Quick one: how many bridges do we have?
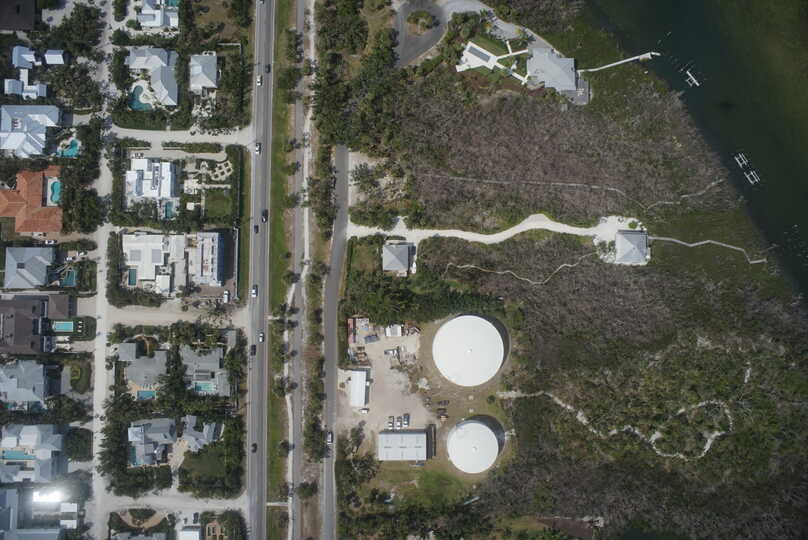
0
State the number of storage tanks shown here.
2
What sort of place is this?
residential area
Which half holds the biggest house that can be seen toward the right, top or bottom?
top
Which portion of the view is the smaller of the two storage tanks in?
bottom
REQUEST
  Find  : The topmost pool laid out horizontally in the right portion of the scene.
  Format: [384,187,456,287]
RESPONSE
[456,41,529,84]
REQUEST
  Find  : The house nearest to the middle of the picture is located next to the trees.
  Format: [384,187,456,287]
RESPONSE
[383,243,409,275]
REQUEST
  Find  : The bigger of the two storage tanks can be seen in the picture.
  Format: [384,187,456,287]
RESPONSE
[432,314,504,387]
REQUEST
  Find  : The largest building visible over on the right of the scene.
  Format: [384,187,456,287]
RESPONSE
[528,47,588,103]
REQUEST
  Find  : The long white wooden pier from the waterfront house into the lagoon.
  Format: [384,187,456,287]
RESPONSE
[578,51,662,73]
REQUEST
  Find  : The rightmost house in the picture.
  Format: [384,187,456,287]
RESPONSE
[613,231,649,264]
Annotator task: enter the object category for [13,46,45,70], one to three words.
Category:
house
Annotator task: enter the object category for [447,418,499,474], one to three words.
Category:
storage tank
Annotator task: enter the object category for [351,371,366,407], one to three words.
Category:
shed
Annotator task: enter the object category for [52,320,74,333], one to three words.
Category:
swimming pool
